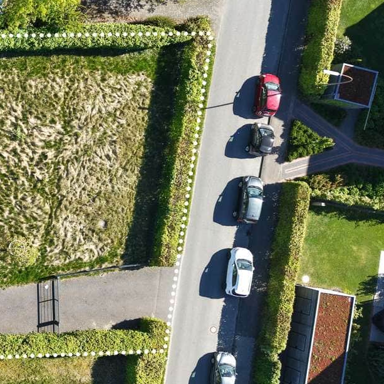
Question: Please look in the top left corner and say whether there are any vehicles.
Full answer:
No, there is no vehicle in the top left corner.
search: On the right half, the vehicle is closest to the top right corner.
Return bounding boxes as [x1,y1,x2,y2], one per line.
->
[249,73,283,119]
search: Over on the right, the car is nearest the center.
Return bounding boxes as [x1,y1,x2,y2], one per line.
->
[233,174,267,227]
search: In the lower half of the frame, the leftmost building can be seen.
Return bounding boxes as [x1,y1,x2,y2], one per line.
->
[281,284,355,384]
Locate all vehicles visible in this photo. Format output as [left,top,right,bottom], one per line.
[244,121,277,159]
[222,247,256,299]
[233,174,267,227]
[249,73,283,119]
[208,350,238,384]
